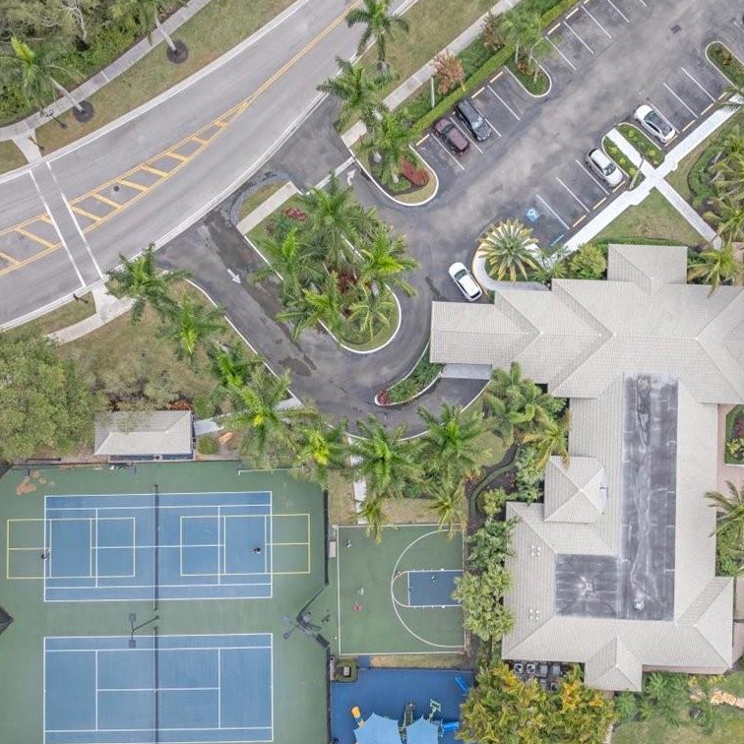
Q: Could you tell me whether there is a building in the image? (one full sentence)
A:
Yes, looking at the shot, I can spot a building.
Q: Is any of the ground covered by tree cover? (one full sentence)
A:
Yes, the picture does contain tree cover.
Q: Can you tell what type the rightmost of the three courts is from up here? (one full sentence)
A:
The rightmost of the three courts is a basketball court.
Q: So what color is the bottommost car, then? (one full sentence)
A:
The color of the bottommost car is white.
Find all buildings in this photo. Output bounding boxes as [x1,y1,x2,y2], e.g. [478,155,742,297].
[431,245,744,690]
[95,411,194,461]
